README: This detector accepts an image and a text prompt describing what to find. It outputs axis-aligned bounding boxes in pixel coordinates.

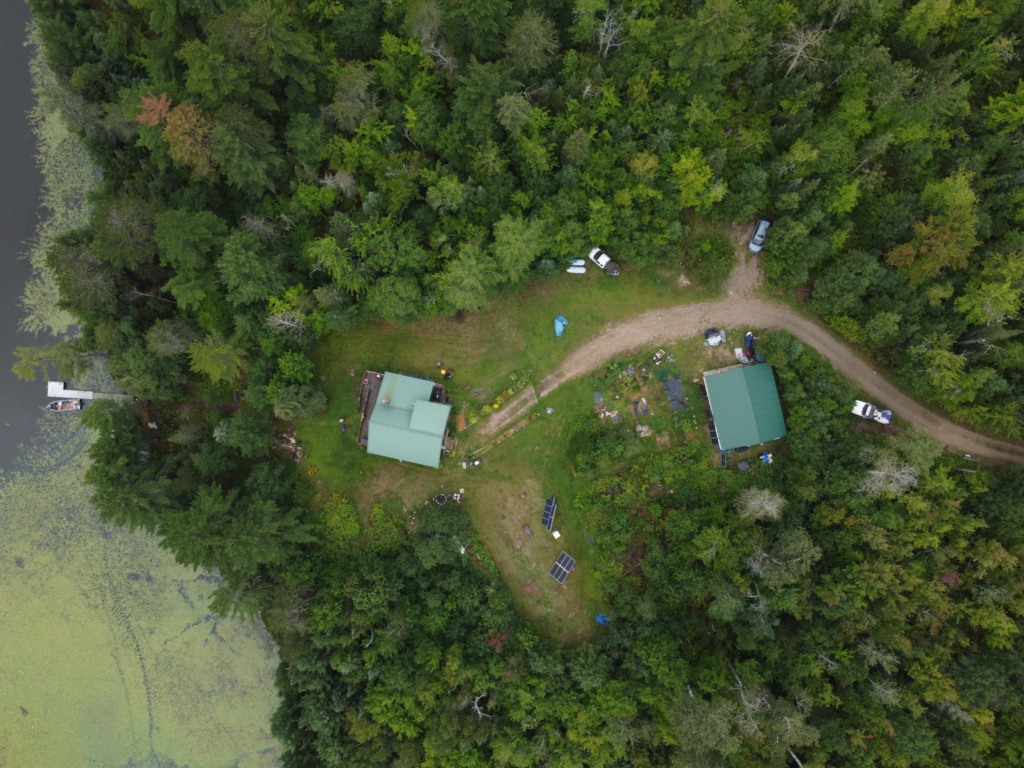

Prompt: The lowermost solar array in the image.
[547,552,575,582]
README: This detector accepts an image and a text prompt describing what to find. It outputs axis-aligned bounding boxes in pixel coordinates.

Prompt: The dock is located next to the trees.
[45,382,136,403]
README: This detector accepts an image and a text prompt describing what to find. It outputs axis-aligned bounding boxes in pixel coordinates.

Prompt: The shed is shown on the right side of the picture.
[696,362,786,450]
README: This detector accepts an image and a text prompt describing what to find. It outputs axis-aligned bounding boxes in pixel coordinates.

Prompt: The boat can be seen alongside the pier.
[45,398,87,411]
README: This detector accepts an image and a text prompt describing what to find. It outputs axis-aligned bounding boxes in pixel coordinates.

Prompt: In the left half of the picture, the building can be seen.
[355,370,463,468]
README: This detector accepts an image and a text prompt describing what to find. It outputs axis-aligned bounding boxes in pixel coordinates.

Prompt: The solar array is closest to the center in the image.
[541,497,556,530]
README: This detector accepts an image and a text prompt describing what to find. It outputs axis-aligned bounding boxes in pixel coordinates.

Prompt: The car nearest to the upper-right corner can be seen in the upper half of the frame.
[746,218,772,255]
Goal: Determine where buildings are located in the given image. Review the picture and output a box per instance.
[355,370,463,468]
[696,362,786,450]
